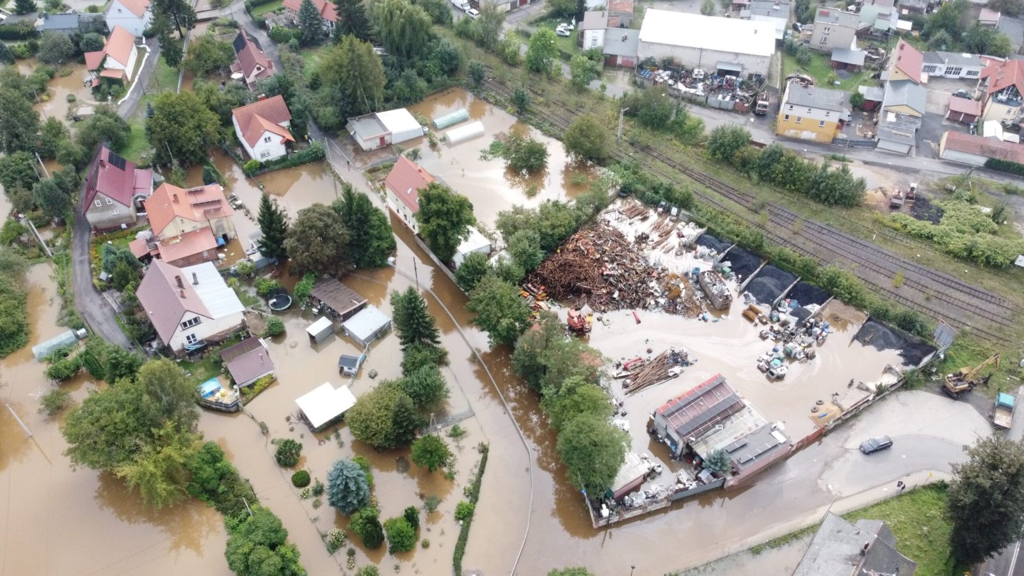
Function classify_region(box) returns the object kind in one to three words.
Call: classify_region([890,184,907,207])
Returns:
vehicle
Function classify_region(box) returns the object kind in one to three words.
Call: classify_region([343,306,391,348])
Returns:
shed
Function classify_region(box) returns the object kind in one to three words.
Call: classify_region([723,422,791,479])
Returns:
building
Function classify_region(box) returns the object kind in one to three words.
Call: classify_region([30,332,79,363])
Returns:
greenhouse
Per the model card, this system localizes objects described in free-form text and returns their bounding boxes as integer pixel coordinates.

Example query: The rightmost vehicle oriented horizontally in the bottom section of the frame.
[860,435,894,453]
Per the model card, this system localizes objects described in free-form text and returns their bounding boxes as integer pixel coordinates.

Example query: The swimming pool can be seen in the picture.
[199,379,225,399]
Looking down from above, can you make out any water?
Yes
